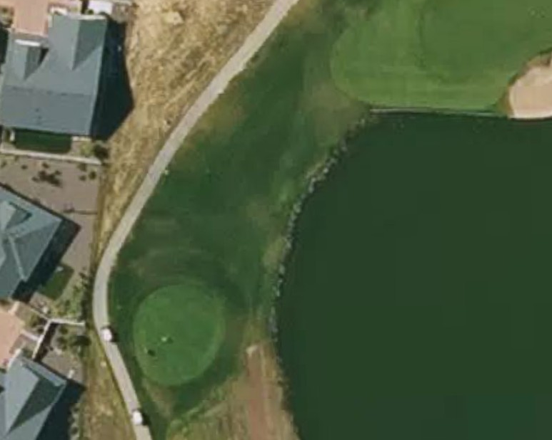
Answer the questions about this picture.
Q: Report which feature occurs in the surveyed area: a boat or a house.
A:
house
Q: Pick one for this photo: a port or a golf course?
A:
golf course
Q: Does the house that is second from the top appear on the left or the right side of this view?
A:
left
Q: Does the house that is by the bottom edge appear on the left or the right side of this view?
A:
left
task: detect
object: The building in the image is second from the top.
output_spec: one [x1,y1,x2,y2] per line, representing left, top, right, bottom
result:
[0,185,64,299]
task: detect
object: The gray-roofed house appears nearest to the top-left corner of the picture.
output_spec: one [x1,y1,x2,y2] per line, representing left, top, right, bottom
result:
[0,16,108,137]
